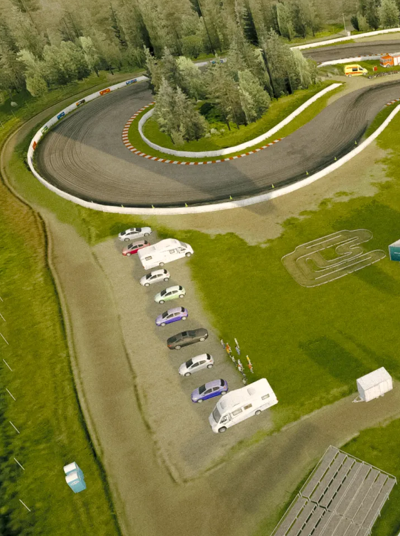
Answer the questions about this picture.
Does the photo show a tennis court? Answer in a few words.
No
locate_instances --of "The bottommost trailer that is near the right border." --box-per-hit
[351,366,394,404]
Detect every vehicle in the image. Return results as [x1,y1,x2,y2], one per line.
[166,328,208,349]
[380,53,400,67]
[119,228,152,241]
[177,352,216,377]
[201,381,270,435]
[139,269,172,286]
[120,239,151,256]
[154,284,187,303]
[345,65,366,77]
[190,378,230,403]
[155,306,190,326]
[141,237,196,266]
